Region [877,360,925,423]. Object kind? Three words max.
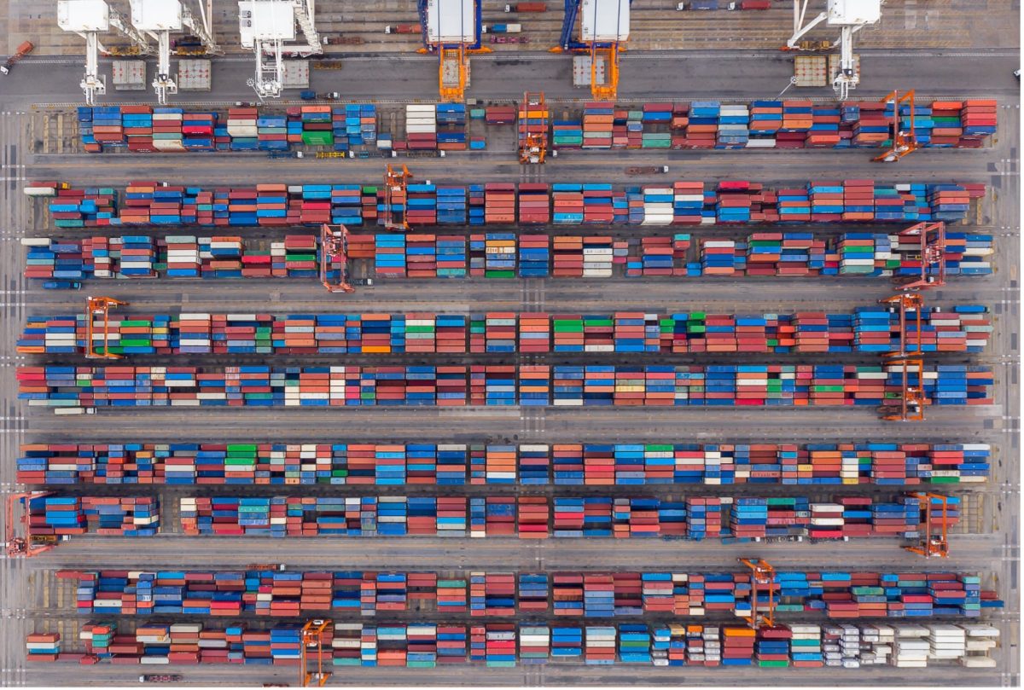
container crane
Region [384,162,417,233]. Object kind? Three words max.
container crane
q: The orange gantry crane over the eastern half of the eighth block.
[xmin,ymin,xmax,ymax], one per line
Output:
[734,556,774,626]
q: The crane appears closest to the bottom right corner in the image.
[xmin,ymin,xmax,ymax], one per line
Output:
[899,490,948,557]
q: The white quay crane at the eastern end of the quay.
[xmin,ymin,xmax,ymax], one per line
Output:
[778,0,879,103]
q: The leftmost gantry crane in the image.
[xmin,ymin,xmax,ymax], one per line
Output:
[5,490,58,557]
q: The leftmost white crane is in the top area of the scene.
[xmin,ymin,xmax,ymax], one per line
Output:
[57,0,157,106]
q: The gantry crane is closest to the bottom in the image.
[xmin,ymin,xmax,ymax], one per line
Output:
[301,618,338,690]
